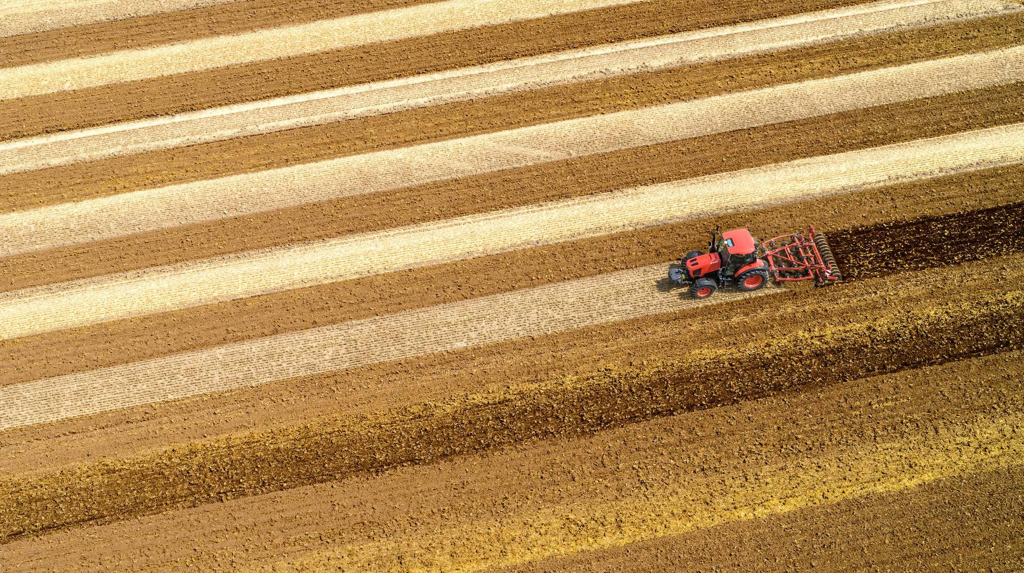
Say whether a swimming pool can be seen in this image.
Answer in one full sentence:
No, the photo shows no swimming pool.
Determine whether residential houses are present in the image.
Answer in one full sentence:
No, no residential house is visible in the view.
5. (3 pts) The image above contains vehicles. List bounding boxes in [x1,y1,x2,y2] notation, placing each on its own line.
[680,225,769,299]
